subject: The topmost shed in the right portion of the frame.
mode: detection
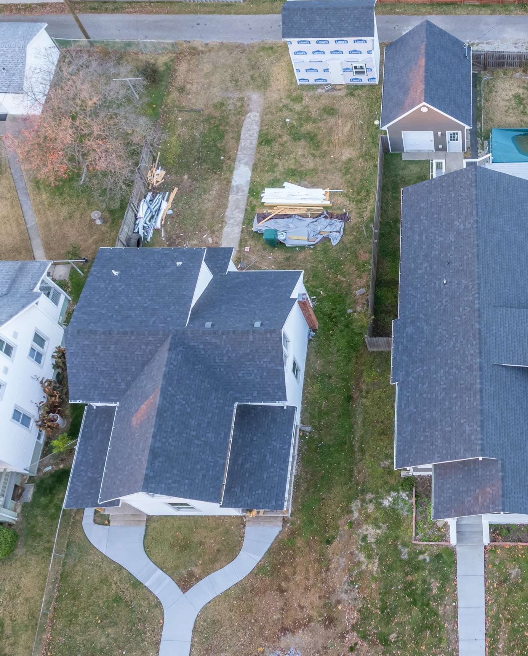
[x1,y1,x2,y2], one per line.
[281,0,381,85]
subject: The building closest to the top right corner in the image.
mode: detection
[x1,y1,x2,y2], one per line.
[379,19,473,153]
